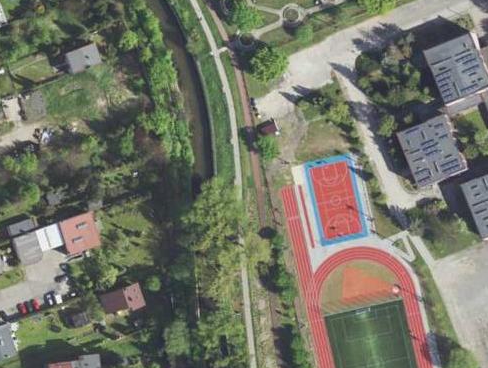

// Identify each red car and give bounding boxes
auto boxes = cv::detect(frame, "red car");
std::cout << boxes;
[32,298,39,310]
[18,302,25,314]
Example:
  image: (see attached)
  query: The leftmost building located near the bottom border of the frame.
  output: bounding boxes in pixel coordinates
[0,323,19,359]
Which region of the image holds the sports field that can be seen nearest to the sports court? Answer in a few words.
bottom right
